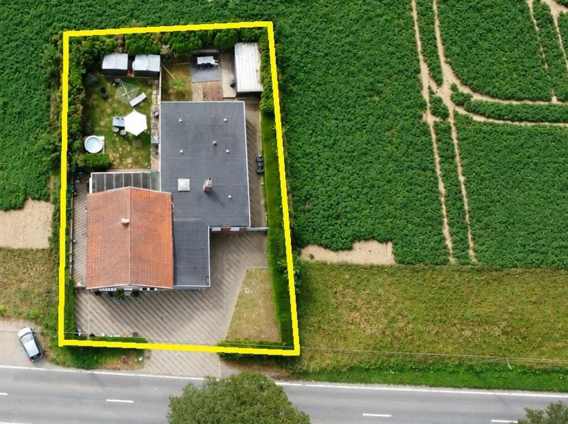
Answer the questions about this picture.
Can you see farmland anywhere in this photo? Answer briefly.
Yes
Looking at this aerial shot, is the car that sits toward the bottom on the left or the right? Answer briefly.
left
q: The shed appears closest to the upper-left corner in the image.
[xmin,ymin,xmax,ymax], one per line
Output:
[102,52,128,79]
